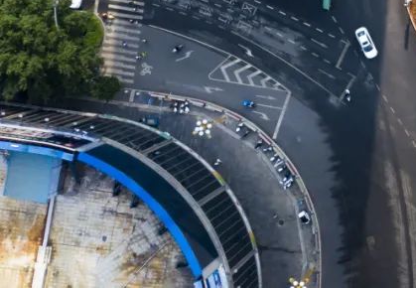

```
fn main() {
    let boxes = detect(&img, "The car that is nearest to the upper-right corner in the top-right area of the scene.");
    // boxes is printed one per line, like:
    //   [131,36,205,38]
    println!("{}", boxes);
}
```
[354,25,378,61]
